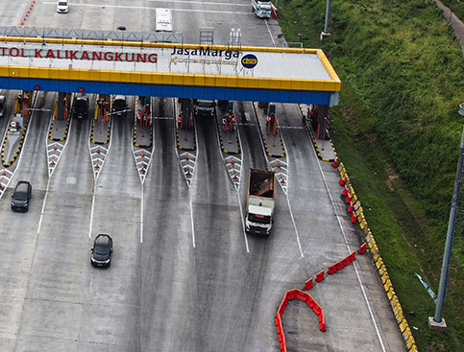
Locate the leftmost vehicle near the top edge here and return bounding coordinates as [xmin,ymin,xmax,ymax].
[56,0,70,12]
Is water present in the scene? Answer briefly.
No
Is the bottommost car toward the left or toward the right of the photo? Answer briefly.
left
